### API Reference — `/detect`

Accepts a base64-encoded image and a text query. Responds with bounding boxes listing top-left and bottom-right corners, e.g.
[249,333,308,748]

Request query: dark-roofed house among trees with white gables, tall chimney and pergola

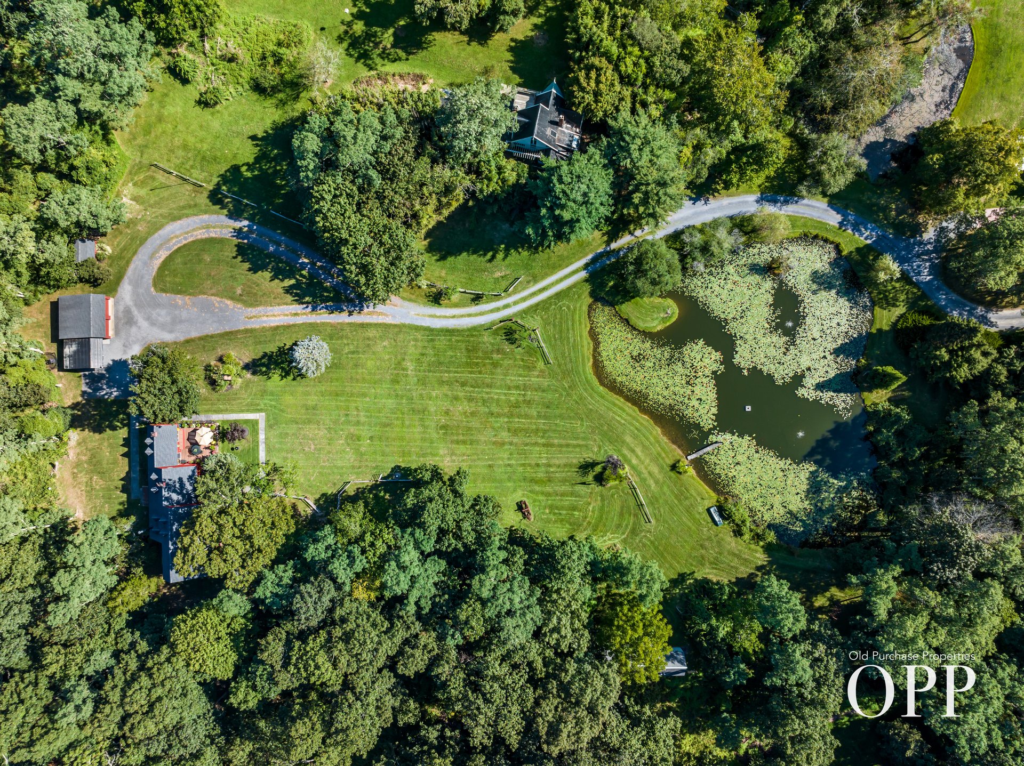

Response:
[510,78,587,166]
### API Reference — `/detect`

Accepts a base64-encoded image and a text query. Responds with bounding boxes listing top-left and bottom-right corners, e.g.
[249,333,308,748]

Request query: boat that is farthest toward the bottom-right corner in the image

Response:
[706,505,723,525]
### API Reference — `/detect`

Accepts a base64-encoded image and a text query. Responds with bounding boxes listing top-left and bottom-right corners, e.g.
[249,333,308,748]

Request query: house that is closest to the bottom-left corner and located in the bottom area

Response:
[140,423,213,587]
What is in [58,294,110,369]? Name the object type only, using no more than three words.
building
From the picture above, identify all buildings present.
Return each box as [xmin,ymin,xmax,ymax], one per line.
[657,648,688,676]
[58,294,110,369]
[140,423,213,587]
[510,78,587,166]
[74,239,99,263]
